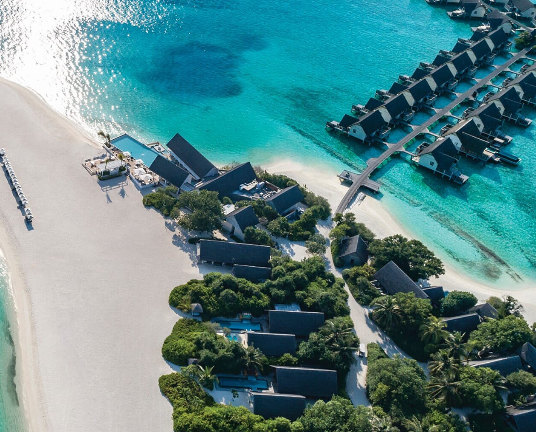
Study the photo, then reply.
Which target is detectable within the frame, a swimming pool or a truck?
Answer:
swimming pool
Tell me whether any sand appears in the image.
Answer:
Yes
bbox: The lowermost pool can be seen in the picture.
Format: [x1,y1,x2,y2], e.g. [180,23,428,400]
[218,377,269,390]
